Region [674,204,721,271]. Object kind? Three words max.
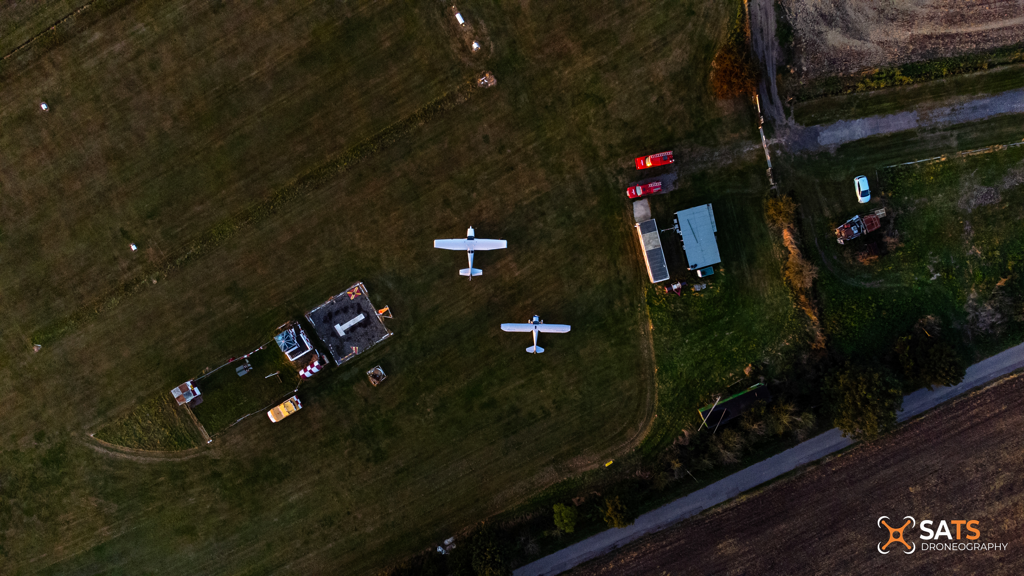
building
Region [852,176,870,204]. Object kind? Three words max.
car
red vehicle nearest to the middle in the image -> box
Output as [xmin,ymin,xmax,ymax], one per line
[626,181,662,198]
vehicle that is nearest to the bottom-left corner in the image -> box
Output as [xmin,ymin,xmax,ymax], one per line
[268,395,304,422]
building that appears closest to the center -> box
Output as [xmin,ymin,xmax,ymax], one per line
[636,219,670,283]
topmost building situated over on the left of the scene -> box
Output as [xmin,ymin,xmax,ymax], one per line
[273,321,318,361]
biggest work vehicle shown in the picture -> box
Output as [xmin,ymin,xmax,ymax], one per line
[833,215,880,243]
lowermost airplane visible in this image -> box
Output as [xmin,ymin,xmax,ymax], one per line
[501,315,571,352]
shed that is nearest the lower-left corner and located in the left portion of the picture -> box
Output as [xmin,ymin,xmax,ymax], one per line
[170,380,202,406]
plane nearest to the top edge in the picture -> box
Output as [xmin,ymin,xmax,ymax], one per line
[434,226,507,281]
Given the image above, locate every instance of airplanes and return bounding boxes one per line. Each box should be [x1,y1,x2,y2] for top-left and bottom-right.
[434,226,507,281]
[501,315,571,352]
